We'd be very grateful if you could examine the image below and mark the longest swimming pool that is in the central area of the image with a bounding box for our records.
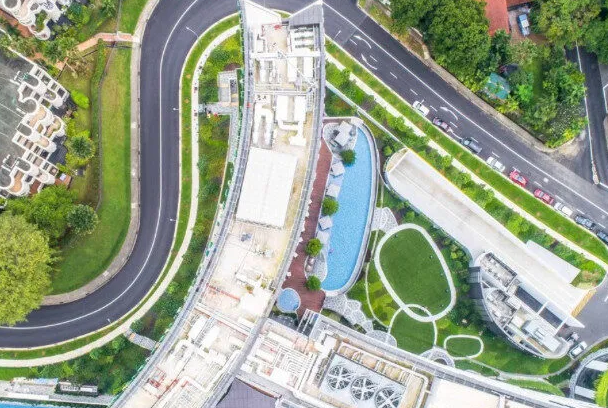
[304,111,385,303]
